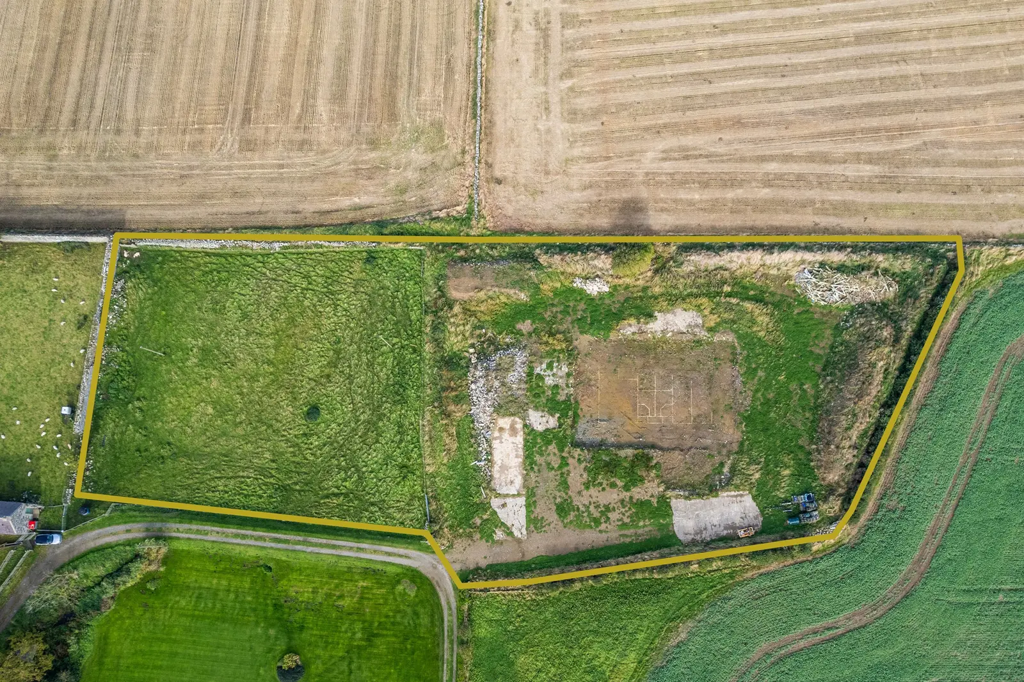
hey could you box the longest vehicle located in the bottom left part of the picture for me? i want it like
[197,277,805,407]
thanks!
[34,532,62,546]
